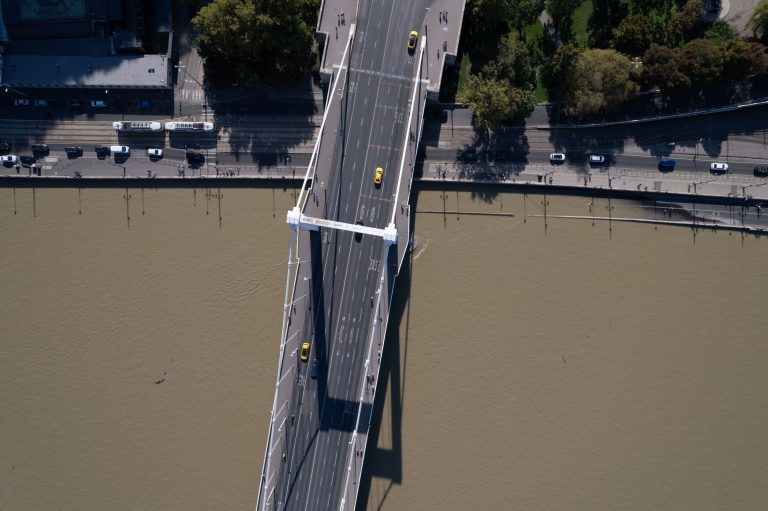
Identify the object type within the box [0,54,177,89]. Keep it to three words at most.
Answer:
building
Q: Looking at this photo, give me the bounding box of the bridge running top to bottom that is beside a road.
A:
[254,0,465,511]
